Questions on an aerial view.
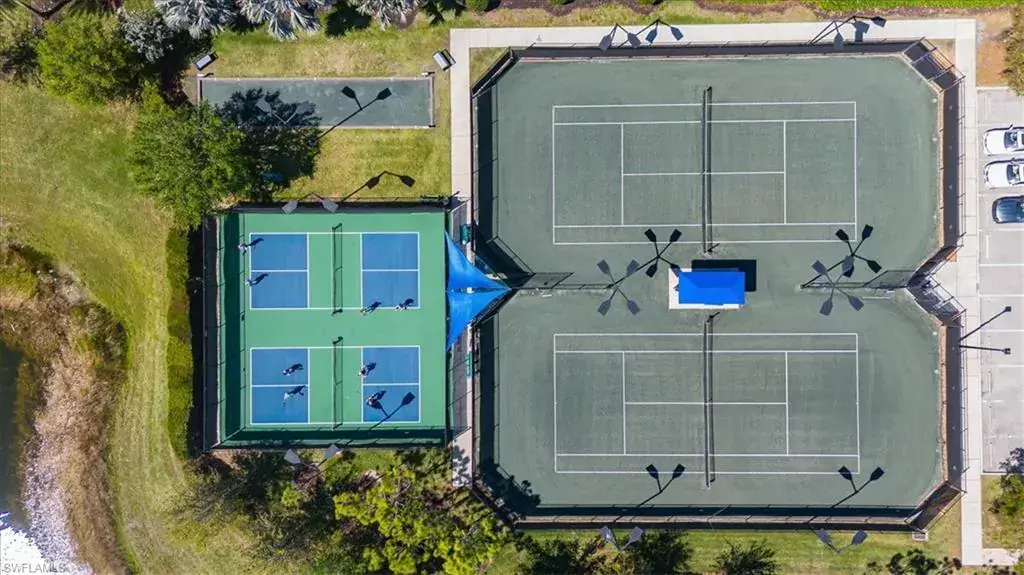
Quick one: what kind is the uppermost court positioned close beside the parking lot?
tennis court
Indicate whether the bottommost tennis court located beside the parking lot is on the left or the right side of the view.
right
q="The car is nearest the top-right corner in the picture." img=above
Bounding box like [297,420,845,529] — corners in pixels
[983,124,1024,155]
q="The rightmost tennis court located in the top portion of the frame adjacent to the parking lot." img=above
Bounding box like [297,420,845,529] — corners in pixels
[474,53,944,288]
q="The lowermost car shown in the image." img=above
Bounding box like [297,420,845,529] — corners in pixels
[991,196,1024,222]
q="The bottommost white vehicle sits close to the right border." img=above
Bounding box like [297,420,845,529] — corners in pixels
[983,157,1024,188]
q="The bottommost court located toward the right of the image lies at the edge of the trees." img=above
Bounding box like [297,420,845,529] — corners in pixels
[474,287,946,522]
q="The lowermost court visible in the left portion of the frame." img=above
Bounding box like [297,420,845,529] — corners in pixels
[220,328,449,443]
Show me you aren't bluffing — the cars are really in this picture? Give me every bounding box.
[983,157,1024,188]
[983,124,1024,155]
[991,196,1024,222]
